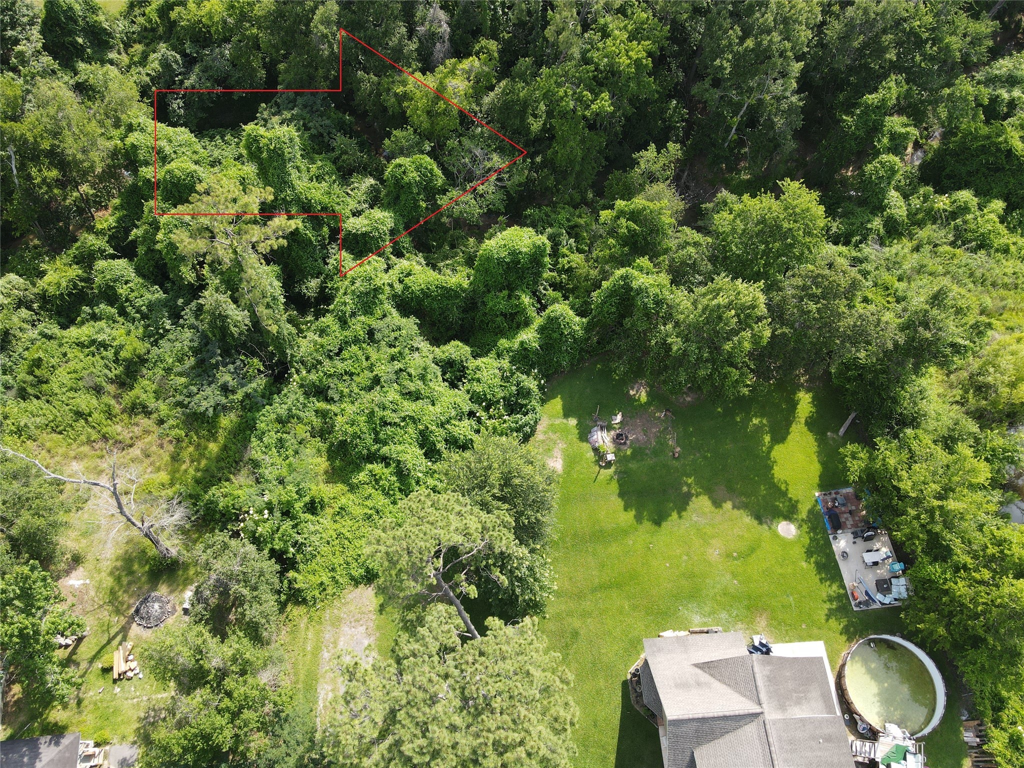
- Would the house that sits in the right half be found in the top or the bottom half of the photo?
bottom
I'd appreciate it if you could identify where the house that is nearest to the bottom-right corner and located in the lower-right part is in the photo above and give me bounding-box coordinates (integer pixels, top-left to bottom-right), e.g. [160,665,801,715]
[640,632,853,768]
